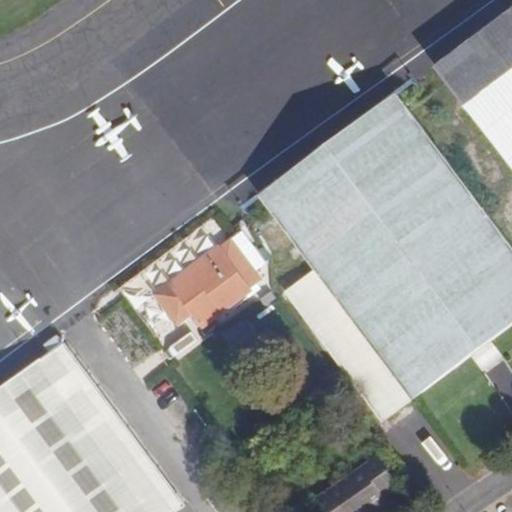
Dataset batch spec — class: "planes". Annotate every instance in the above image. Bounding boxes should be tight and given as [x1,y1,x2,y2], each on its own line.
[0,292,36,336]
[86,109,140,163]
[326,57,364,95]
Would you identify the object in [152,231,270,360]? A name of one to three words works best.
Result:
house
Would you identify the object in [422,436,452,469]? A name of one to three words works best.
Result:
van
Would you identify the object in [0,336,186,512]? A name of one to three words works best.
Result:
hangar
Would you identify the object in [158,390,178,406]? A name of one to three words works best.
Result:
car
